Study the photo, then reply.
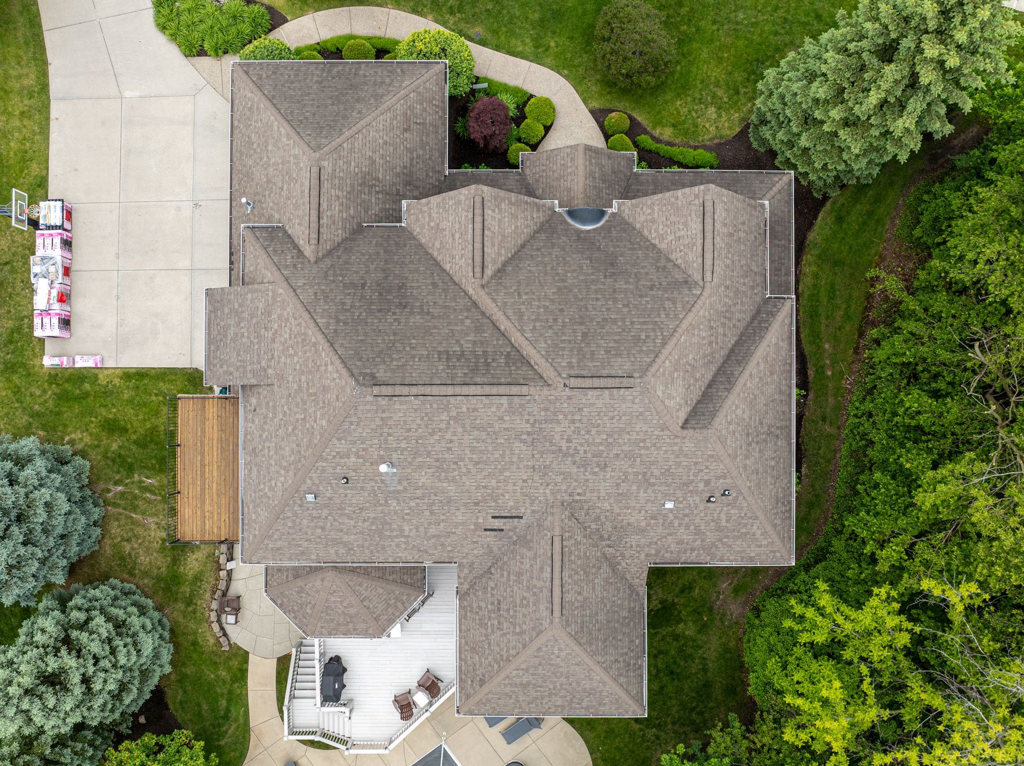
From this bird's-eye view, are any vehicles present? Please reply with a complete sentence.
No, there appears to be no vehicle in this shot.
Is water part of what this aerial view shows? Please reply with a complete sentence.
No, the picture contains no water.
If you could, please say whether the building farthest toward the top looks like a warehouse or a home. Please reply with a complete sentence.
The building farthest toward the top in the image is a home.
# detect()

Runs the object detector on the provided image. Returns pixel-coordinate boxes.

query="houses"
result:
[206,61,794,715]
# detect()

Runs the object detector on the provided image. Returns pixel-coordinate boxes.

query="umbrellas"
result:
[420,733,465,766]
